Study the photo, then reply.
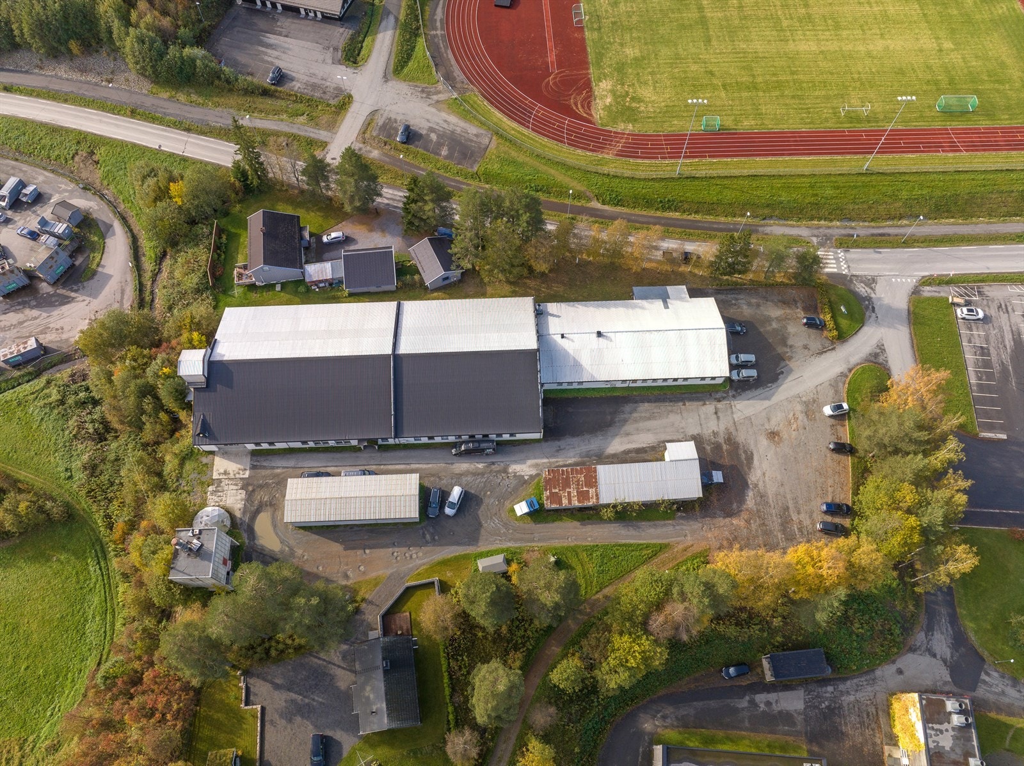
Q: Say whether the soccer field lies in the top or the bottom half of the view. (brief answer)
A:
top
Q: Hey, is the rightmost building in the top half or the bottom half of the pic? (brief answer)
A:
bottom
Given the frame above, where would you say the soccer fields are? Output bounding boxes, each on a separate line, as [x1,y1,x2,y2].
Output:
[583,0,1024,133]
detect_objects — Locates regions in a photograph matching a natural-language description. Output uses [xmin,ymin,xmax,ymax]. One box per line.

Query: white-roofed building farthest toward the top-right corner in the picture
[537,284,730,391]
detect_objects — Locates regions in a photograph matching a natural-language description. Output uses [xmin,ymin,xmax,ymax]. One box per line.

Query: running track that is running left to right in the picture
[445,0,1024,160]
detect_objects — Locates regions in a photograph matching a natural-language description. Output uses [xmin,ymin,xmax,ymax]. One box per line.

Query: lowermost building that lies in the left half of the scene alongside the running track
[176,298,544,457]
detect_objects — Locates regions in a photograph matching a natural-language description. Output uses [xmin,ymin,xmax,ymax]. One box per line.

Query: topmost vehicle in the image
[268,66,283,85]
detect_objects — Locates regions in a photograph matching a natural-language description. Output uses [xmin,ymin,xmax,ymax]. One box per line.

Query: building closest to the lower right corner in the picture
[889,690,985,766]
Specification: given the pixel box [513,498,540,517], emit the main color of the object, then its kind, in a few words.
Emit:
white vehicle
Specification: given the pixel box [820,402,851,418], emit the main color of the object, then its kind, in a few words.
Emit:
white car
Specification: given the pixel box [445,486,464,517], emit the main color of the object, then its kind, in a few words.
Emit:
white car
